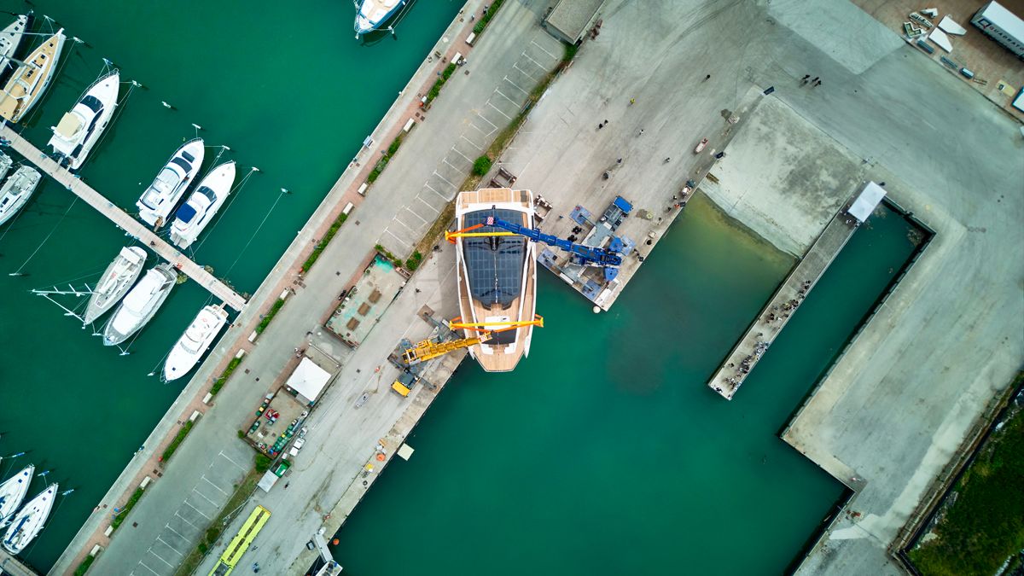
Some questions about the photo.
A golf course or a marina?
marina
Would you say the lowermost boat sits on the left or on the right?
left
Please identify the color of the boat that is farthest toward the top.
white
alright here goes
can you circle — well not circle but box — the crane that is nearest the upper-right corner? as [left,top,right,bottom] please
[479,189,641,292]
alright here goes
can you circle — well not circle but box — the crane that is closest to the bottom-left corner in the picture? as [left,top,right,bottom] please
[384,308,496,404]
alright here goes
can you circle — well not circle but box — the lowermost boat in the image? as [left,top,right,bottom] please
[316,555,345,576]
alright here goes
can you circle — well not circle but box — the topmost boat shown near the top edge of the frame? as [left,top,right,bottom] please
[358,0,401,34]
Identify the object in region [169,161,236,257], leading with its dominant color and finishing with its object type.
white boat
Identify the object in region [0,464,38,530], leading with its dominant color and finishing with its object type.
white boat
